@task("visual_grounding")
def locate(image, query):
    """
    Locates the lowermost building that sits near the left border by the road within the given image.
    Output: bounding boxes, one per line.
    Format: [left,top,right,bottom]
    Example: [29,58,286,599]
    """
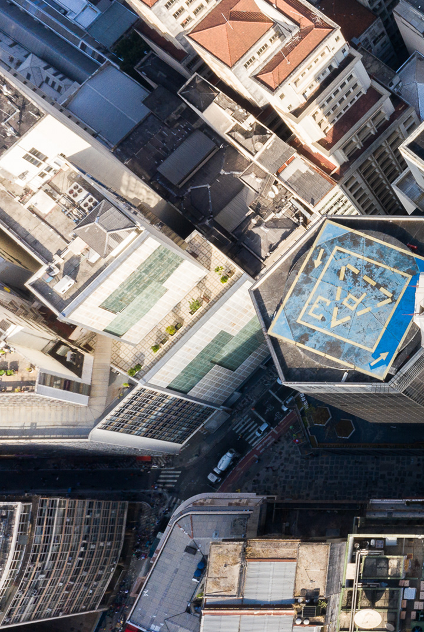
[0,497,127,632]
